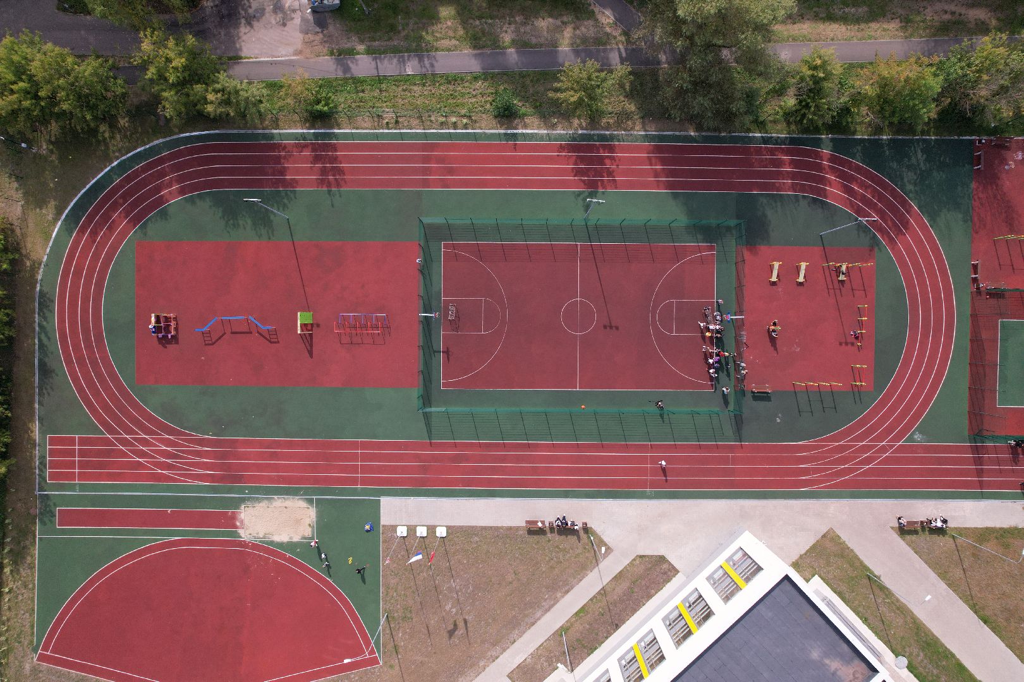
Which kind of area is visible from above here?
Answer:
sports ground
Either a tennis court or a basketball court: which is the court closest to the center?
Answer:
basketball court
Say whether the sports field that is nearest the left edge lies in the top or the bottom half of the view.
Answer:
bottom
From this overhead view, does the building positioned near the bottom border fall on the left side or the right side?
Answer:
right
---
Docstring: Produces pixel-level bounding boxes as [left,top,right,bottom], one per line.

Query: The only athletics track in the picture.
[47,142,1024,495]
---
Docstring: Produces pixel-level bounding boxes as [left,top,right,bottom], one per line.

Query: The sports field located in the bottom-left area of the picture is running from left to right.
[35,493,380,660]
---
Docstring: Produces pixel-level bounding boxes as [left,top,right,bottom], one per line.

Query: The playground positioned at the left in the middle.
[135,241,420,387]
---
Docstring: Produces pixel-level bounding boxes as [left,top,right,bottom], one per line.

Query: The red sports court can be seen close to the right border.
[969,139,1024,436]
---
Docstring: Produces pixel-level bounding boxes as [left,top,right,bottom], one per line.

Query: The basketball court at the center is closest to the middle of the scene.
[441,242,716,391]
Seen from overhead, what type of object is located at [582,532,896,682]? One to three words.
building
